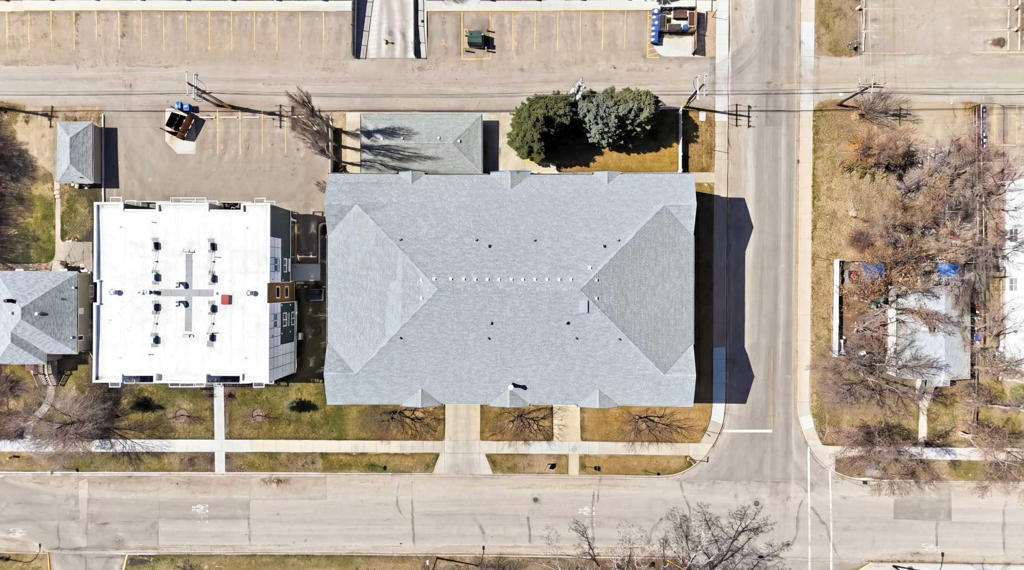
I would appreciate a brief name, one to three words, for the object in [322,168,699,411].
building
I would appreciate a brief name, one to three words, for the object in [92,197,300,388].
building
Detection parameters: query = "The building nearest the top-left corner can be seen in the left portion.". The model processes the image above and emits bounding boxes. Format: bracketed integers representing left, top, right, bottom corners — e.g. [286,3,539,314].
[57,121,101,183]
